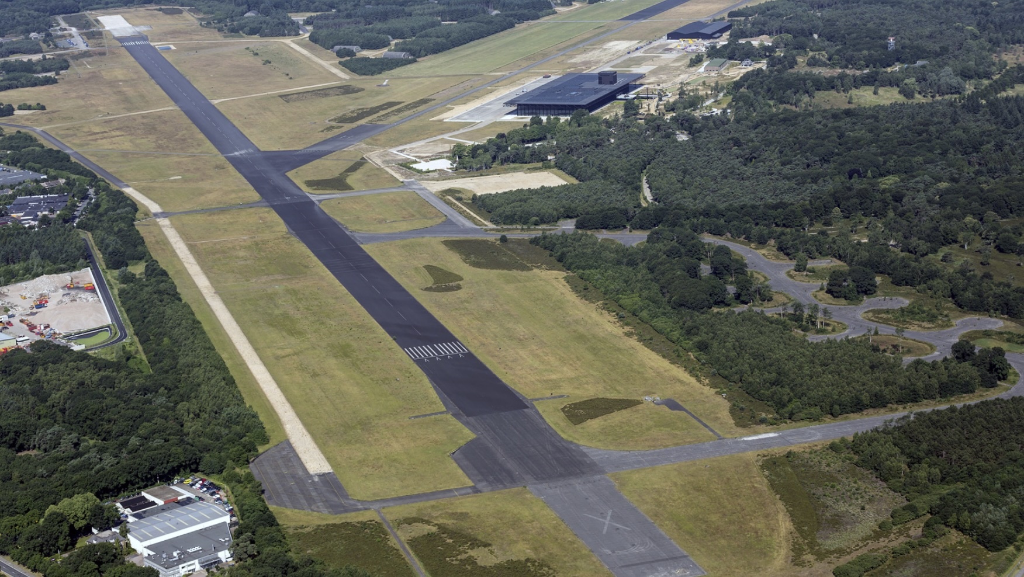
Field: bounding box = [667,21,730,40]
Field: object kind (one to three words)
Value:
hangar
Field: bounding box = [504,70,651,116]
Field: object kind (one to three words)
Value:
building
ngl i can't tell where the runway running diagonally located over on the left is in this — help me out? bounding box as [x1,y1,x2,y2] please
[114,35,530,416]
